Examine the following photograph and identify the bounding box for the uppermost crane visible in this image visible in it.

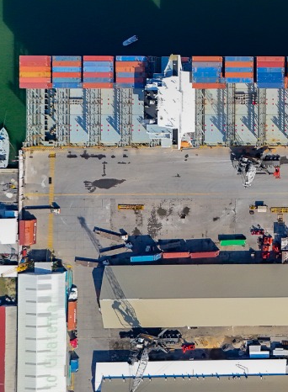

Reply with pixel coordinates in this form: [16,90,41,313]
[230,146,280,190]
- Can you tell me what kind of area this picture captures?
port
